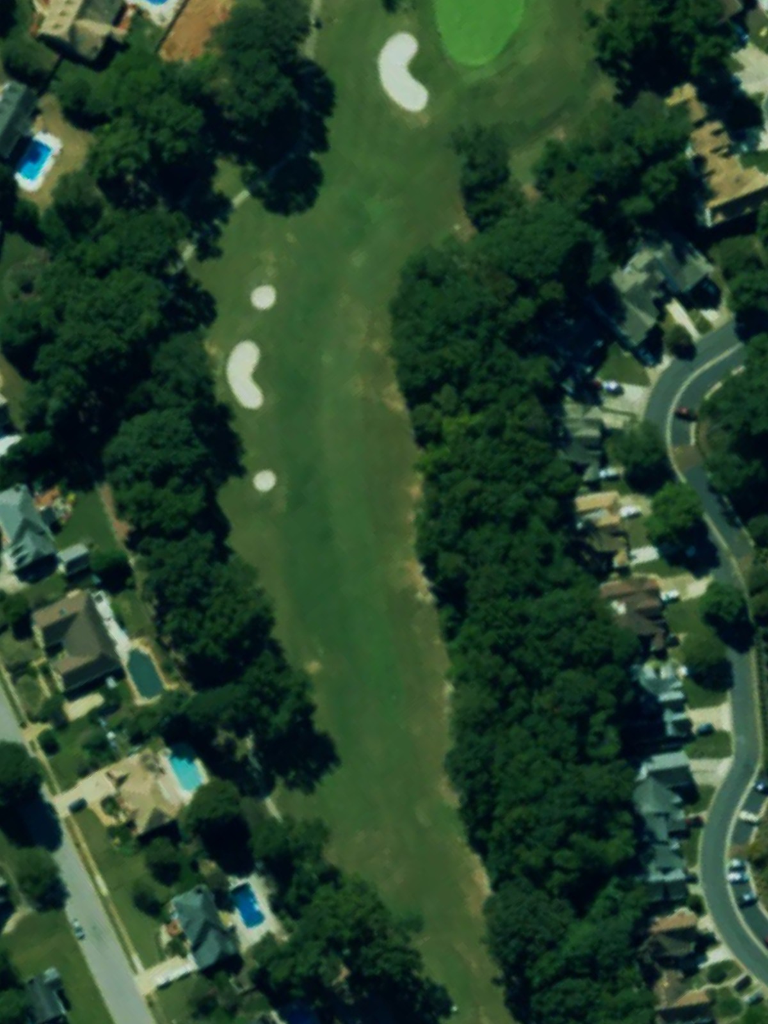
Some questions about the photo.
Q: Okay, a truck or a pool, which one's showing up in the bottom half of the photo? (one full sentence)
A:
What appears in the bottom half of the photo is a pool.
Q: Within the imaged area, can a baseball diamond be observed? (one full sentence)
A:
No, this view has no baseball diamond in it.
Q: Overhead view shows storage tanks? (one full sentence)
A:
No, there isn't any storage tank down there.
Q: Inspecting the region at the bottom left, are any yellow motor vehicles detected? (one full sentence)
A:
No, there's no yellow motor vehicle to be seen at the bottom left.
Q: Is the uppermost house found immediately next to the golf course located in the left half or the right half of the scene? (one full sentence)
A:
The uppermost house found immediately next to the golf course is on the right side of the image.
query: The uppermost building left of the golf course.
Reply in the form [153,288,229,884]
[40,0,117,60]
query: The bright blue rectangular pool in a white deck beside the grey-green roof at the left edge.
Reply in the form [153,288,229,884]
[12,131,63,190]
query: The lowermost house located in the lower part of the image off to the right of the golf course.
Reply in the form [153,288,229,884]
[653,970,718,1024]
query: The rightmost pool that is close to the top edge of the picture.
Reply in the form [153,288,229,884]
[129,0,181,26]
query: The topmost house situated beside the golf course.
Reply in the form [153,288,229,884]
[664,81,768,222]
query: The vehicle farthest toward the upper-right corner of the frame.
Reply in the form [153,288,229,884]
[735,25,750,44]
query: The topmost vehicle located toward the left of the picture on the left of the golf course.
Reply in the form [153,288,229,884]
[67,797,88,813]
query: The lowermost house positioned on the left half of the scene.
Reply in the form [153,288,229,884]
[25,969,70,1024]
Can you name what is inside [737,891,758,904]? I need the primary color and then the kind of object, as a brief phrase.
blue vehicle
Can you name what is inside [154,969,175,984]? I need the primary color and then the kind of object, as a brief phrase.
white car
